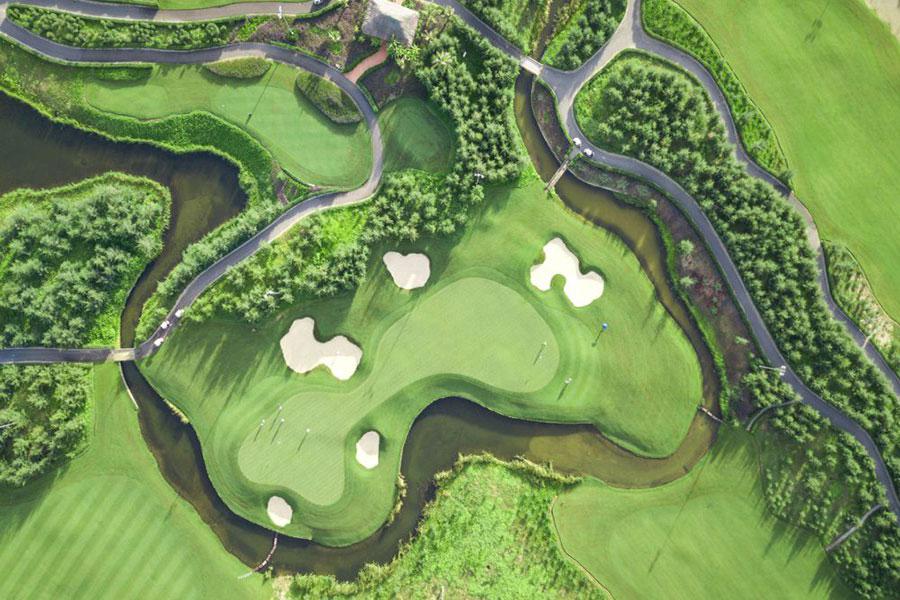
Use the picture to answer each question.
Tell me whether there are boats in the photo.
No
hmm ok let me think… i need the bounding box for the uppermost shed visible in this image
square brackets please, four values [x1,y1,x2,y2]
[360,0,419,47]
